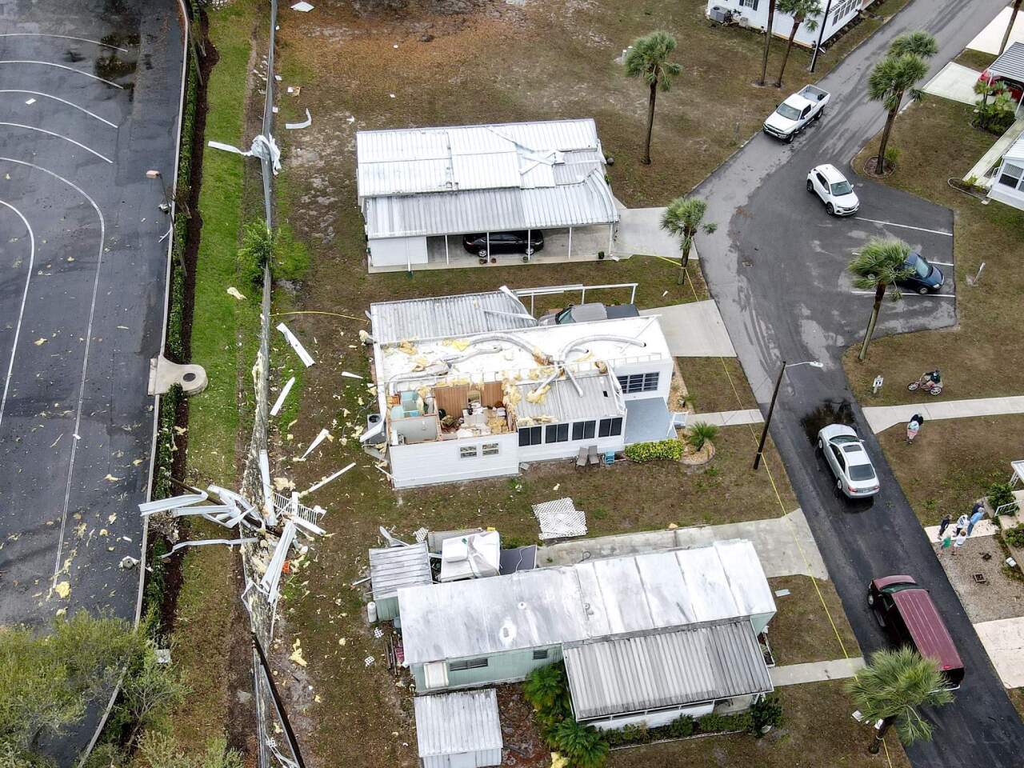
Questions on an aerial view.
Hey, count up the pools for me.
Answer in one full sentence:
No pools are visible.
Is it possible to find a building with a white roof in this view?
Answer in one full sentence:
Yes, the photo shows a building with a white roof.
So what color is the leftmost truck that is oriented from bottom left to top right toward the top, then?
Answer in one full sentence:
In this view, the leftmost truck that is oriented from bottom left to top right toward the top is white.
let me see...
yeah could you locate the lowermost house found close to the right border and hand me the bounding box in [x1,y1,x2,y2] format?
[985,137,1024,214]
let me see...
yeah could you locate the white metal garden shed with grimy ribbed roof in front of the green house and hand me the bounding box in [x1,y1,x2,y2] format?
[414,689,502,768]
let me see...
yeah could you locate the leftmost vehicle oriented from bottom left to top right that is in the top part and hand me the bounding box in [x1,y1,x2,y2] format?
[759,85,836,142]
